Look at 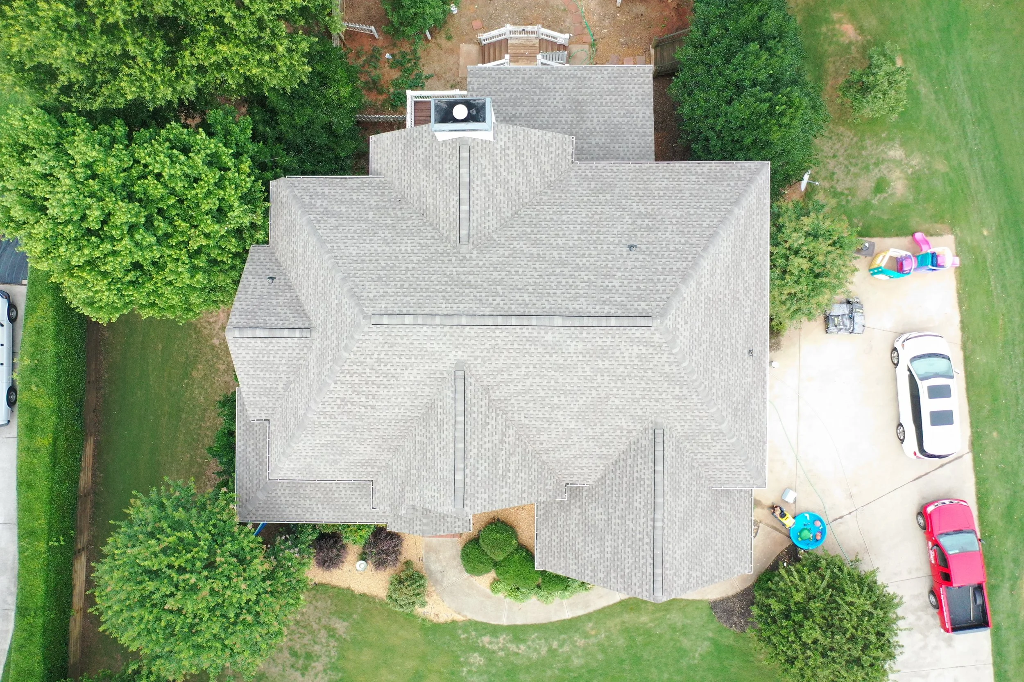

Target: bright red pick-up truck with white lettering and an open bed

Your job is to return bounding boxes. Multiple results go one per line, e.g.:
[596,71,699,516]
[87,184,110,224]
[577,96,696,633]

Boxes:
[917,495,996,639]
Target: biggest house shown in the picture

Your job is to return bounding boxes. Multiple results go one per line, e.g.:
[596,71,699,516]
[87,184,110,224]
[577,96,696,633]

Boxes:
[224,65,771,603]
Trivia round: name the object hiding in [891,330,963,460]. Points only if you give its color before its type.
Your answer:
white car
